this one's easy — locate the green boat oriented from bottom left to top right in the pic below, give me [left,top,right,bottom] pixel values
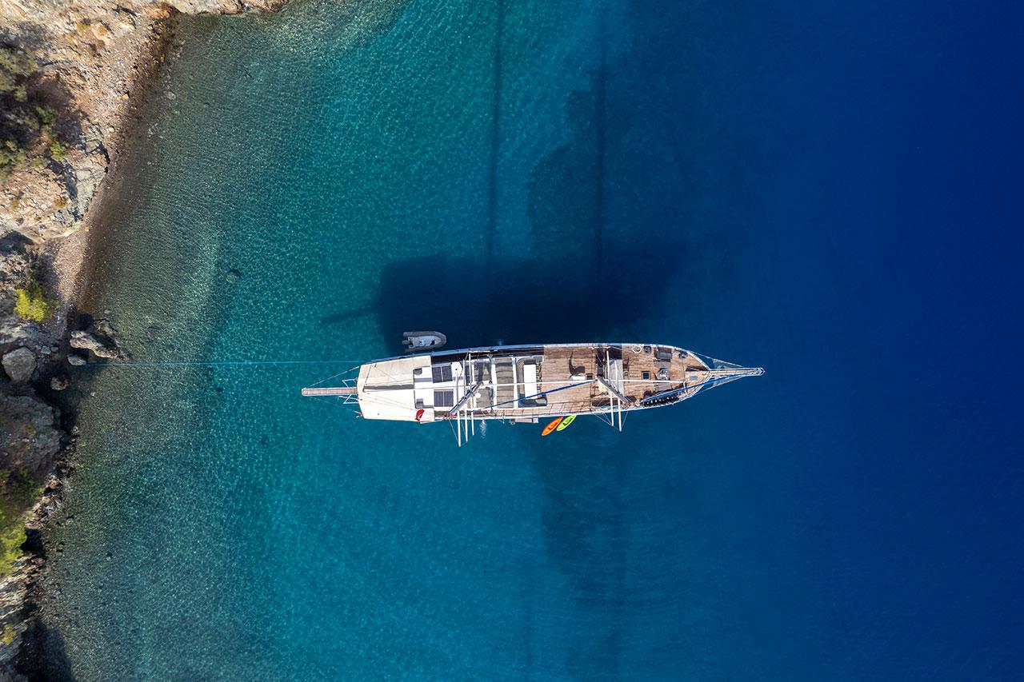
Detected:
[557,416,576,431]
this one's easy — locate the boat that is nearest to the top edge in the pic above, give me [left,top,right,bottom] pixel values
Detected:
[402,330,447,354]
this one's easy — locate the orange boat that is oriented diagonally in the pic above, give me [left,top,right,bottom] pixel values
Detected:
[542,417,563,435]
